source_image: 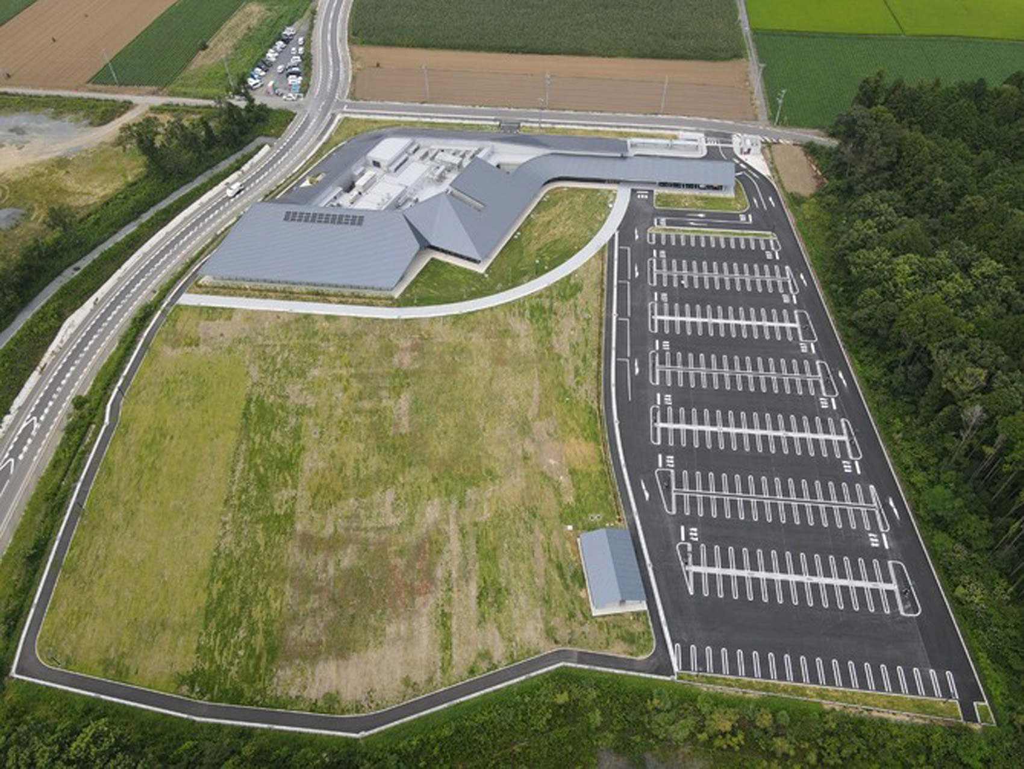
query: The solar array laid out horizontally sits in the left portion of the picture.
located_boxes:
[284,211,363,225]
